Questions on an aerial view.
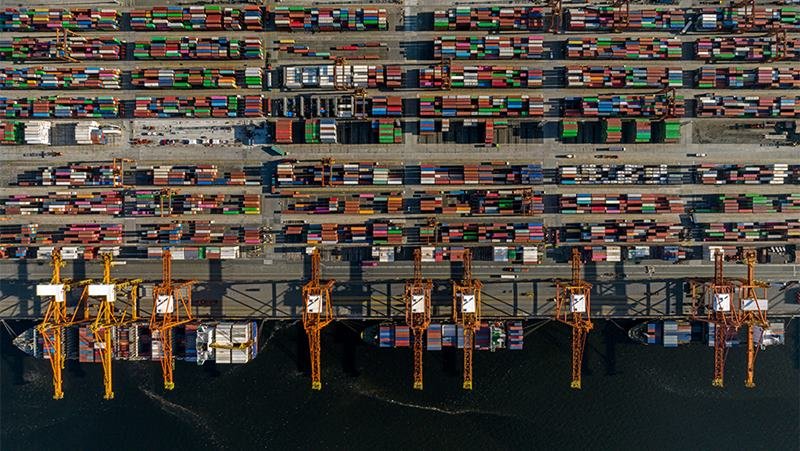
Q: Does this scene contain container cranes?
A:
Yes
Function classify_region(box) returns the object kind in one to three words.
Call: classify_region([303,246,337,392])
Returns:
container crane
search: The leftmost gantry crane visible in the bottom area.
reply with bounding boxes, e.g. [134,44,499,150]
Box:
[36,249,99,402]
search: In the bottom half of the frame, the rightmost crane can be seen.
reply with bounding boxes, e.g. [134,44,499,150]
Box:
[708,246,771,392]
